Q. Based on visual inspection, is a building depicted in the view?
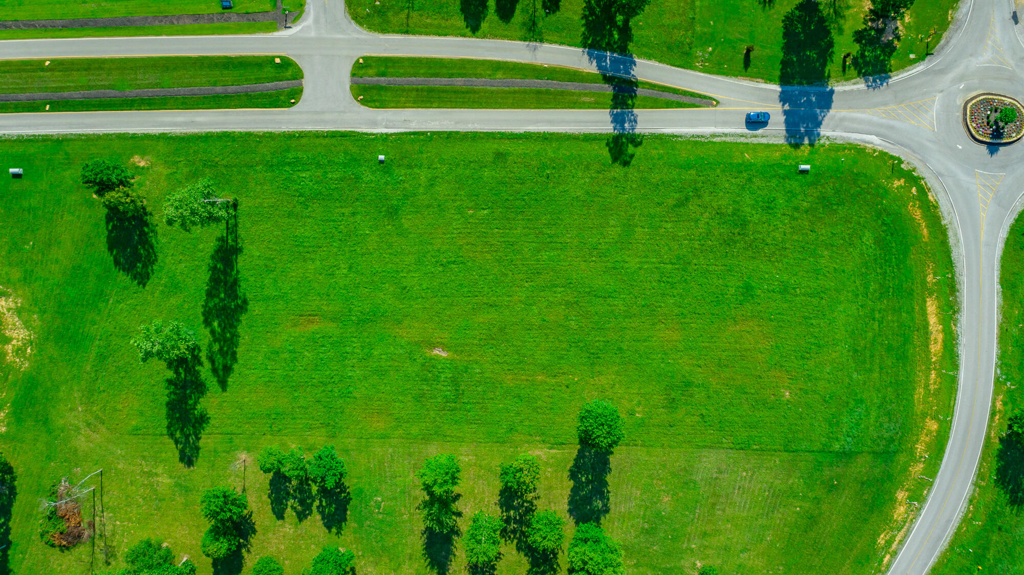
No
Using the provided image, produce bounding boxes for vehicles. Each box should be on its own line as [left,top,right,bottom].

[745,112,769,123]
[221,0,231,10]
